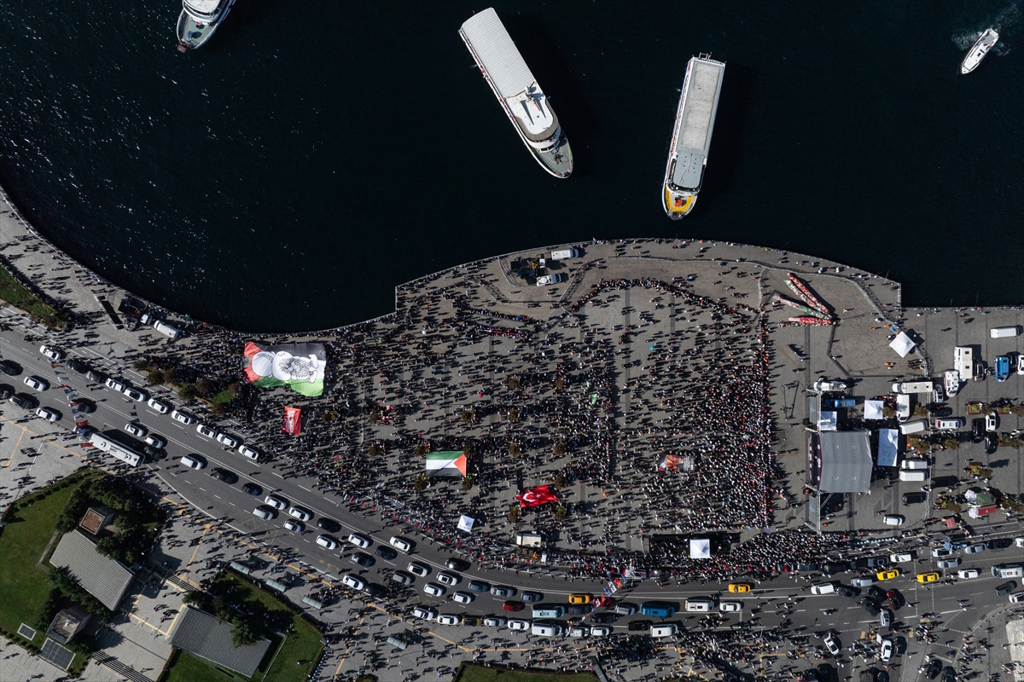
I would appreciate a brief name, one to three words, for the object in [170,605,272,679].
building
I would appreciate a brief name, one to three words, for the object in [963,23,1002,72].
boat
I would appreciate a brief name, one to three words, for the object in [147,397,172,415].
car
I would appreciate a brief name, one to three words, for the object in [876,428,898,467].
tent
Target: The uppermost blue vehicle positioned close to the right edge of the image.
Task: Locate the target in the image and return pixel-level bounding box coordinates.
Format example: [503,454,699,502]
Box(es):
[993,354,1012,381]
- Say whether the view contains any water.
Yes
